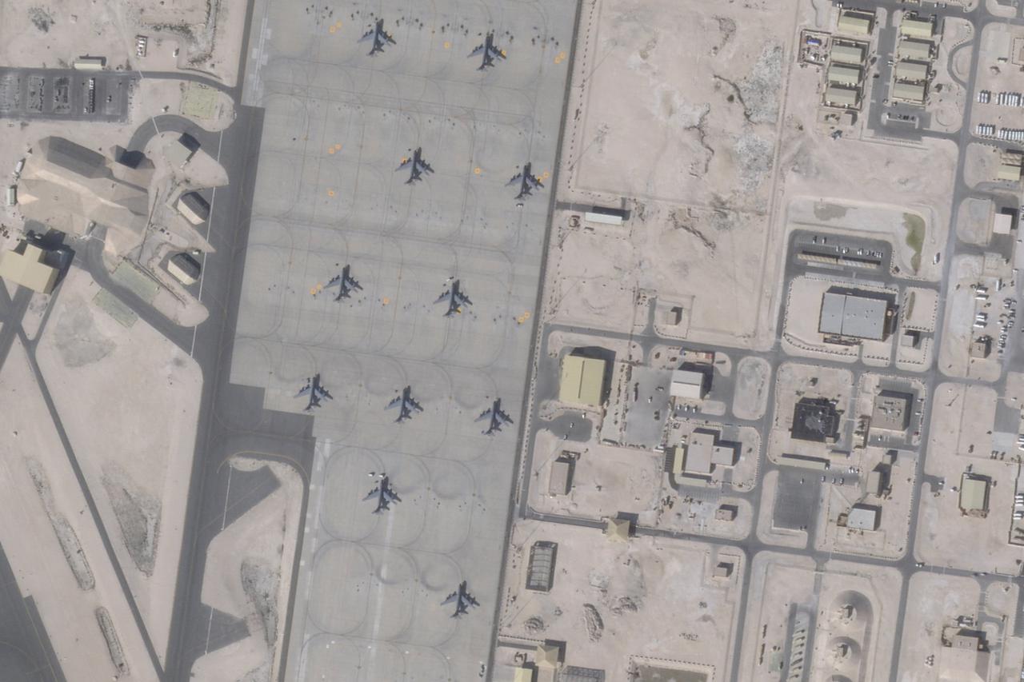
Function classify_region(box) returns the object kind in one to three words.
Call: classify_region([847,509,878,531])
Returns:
building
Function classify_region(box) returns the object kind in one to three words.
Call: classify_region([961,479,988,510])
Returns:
house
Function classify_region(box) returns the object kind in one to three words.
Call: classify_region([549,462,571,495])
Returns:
building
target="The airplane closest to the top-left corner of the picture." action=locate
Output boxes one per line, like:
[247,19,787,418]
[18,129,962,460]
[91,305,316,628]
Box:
[359,21,391,54]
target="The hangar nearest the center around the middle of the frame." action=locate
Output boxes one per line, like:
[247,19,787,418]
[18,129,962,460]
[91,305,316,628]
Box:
[557,354,610,407]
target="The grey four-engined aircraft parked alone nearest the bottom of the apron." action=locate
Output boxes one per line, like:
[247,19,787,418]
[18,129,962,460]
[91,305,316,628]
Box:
[441,585,474,619]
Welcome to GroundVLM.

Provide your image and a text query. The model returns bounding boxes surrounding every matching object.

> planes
[434,283,466,316]
[325,268,357,302]
[363,480,396,514]
[468,38,501,71]
[395,150,428,183]
[441,585,474,619]
[359,21,391,54]
[505,166,538,199]
[385,389,418,423]
[474,402,508,435]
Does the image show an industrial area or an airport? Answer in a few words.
airport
